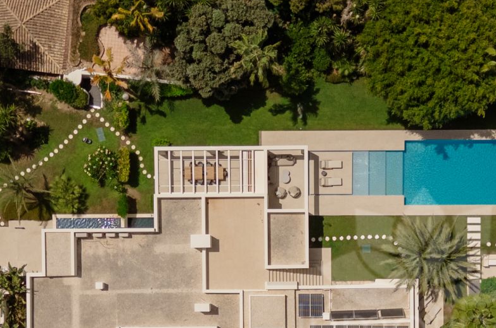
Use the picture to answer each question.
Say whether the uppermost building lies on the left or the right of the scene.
left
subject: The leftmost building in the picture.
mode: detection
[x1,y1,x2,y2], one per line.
[0,0,82,78]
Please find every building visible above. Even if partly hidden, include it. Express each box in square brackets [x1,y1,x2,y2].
[0,0,82,78]
[27,146,419,328]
